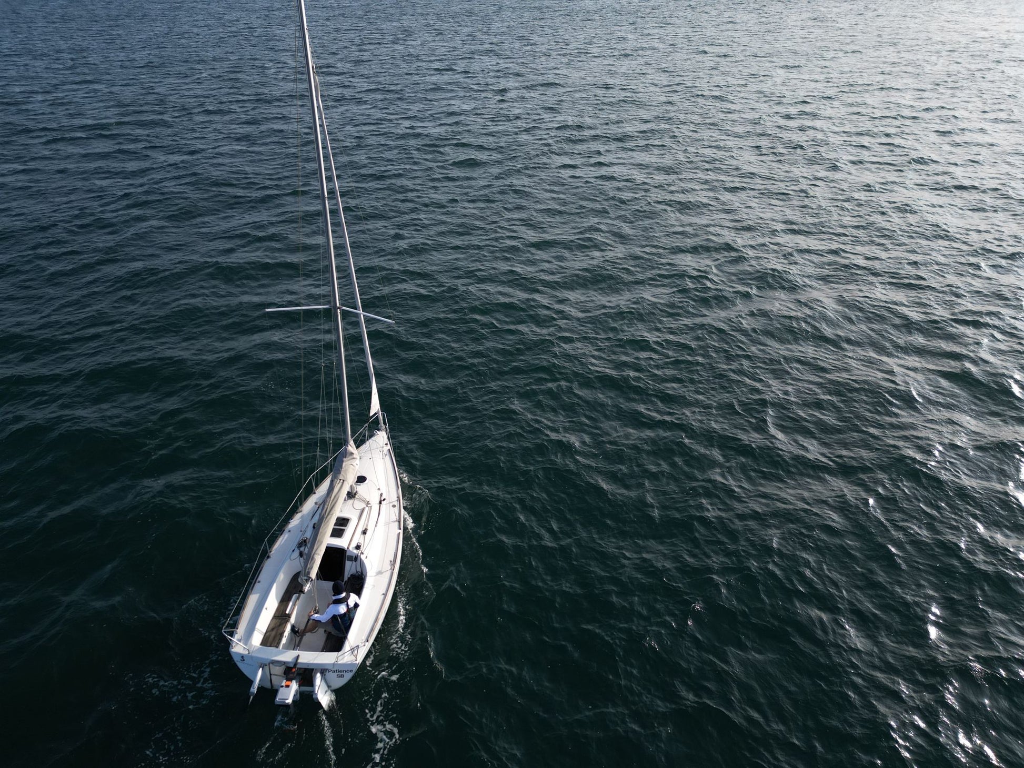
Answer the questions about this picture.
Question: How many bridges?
0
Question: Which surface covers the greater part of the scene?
water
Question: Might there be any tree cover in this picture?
No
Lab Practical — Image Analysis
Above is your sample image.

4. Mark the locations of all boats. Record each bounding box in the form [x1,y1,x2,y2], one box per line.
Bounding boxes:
[225,0,405,707]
